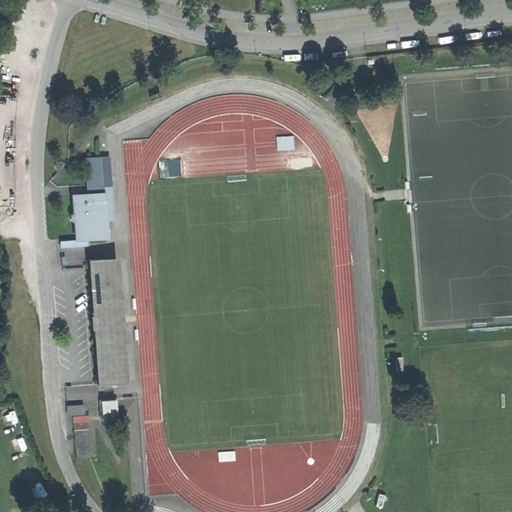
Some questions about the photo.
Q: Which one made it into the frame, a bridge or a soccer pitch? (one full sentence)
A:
There is a soccer pitch in the scene.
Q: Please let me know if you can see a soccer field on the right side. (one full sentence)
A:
Yes, I can see a soccer field on the right side.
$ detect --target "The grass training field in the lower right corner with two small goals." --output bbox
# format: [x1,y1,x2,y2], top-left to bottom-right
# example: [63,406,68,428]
[419,338,512,512]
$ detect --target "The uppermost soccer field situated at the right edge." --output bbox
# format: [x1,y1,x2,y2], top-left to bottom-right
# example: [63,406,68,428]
[402,67,512,330]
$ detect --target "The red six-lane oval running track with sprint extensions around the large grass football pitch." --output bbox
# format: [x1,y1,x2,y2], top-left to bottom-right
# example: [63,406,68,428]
[123,95,362,512]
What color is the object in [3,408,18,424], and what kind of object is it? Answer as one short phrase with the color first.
white camper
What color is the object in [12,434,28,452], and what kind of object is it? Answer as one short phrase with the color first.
white camper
